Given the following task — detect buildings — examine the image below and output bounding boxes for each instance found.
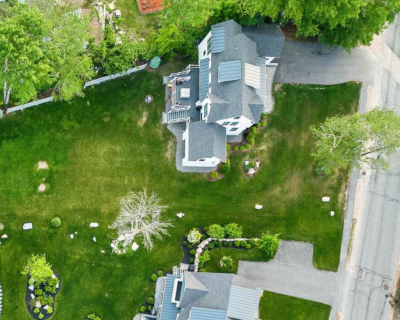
[161,18,291,164]
[142,267,263,320]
